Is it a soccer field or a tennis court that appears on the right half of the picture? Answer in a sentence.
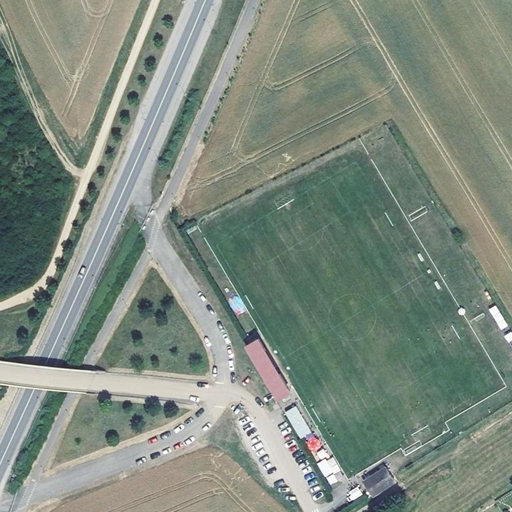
Visible on the right half of the picture is a soccer field.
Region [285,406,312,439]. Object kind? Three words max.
shed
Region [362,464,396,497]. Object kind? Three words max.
building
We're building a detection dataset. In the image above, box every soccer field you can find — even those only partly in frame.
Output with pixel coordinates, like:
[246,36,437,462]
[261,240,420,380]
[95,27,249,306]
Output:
[212,154,502,474]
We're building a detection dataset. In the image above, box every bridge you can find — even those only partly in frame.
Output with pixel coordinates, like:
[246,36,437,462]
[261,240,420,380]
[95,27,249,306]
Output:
[0,360,116,394]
